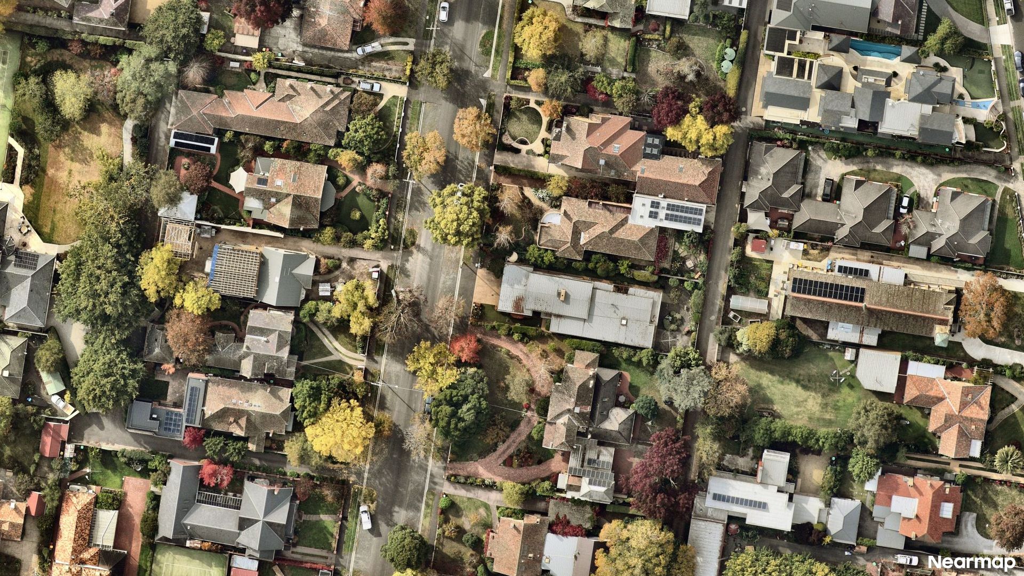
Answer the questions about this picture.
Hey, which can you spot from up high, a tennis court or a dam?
tennis court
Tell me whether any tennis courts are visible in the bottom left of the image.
Yes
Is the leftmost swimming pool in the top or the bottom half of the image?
top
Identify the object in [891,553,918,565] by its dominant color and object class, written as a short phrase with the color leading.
white vehicle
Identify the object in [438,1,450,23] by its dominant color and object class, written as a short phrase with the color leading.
white vehicle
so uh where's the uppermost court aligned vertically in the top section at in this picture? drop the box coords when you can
[0,29,22,182]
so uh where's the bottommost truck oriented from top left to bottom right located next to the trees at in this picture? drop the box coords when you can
[50,392,74,417]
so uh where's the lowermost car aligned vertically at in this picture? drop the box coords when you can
[358,504,371,530]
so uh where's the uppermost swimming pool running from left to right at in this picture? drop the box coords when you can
[850,39,901,60]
